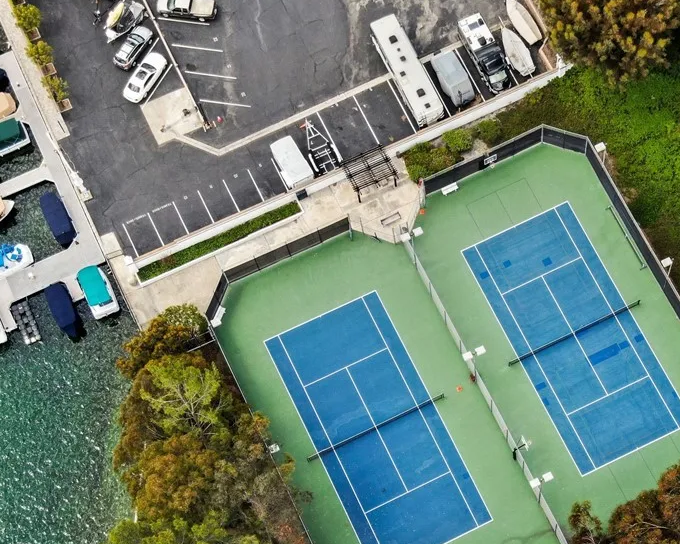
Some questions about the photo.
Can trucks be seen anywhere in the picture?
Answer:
Yes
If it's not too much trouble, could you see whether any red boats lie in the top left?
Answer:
No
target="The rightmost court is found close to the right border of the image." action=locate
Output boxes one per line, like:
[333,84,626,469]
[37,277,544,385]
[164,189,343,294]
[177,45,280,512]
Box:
[409,144,680,544]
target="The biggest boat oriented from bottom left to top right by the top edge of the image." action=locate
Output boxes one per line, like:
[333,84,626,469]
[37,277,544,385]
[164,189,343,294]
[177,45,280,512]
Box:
[105,3,150,47]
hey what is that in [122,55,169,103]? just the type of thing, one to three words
car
